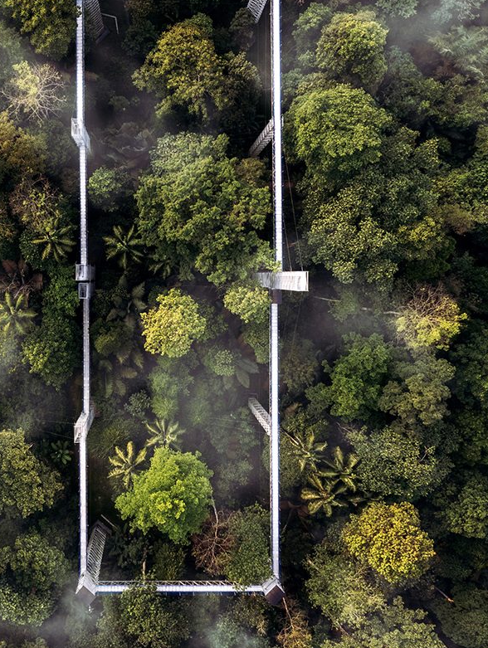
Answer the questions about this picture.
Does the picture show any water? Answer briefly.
No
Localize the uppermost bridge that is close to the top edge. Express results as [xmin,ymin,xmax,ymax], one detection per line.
[74,0,86,122]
